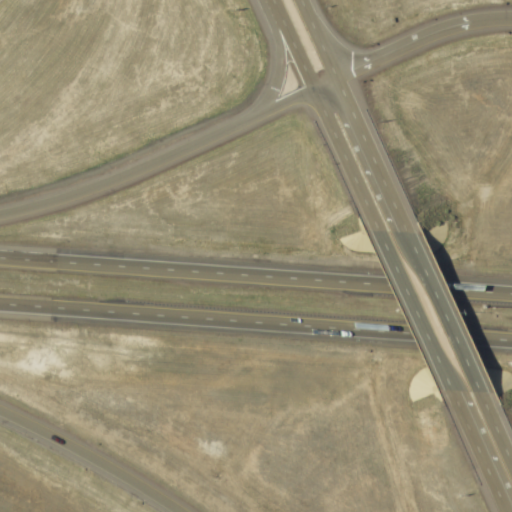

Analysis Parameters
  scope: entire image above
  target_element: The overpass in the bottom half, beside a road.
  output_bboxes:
[340,221,512,406]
